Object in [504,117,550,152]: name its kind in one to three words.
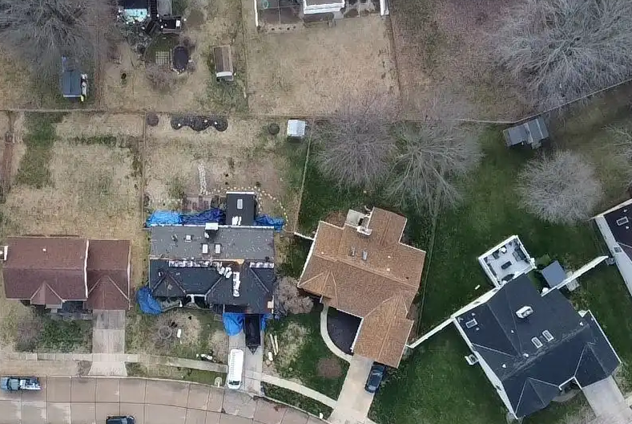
shed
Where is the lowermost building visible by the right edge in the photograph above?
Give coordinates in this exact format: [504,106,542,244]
[453,276,619,418]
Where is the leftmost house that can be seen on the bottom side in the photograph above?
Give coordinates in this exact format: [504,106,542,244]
[0,236,130,310]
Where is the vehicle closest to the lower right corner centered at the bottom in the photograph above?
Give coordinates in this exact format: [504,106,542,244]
[364,362,384,392]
